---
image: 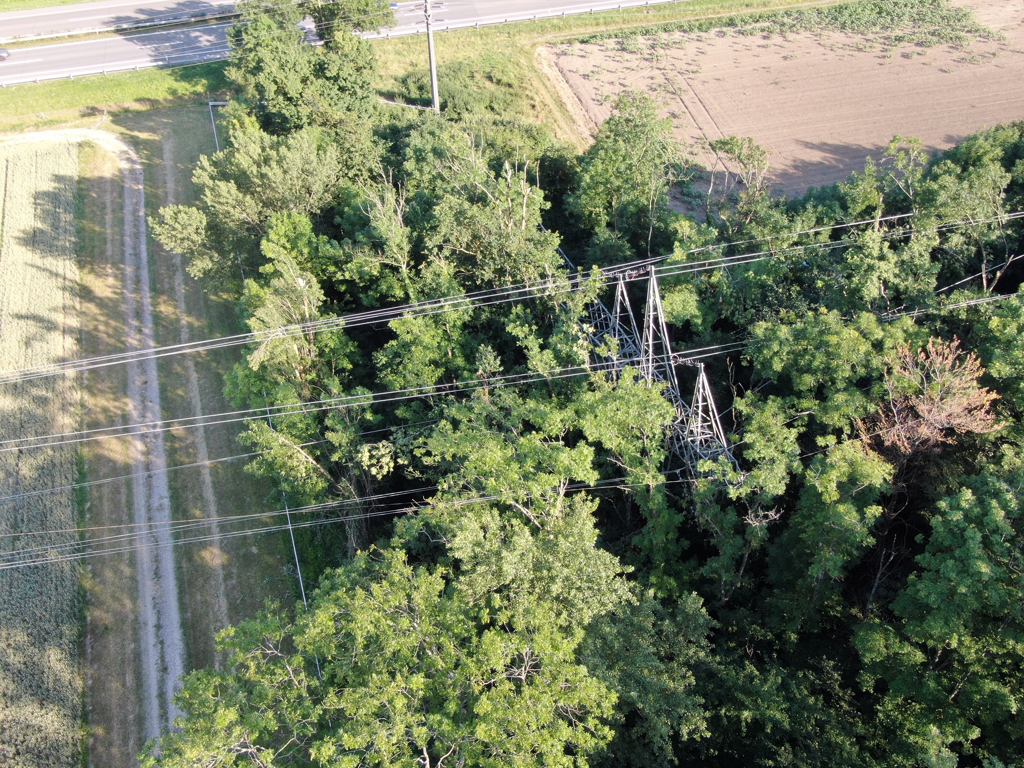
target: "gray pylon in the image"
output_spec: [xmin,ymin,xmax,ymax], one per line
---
[528,229,754,510]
